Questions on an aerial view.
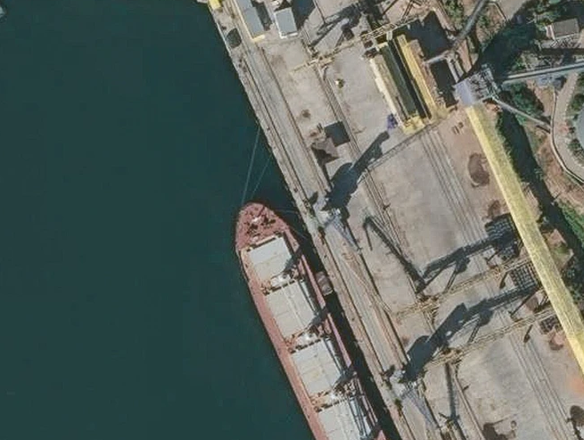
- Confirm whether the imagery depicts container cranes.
Yes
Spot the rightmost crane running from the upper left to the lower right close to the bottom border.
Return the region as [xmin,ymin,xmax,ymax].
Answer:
[379,360,440,430]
